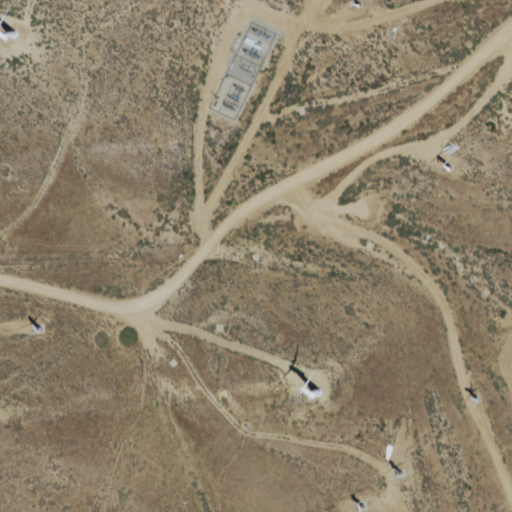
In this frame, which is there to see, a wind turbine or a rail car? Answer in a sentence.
It is a wind turbine that can be seen here.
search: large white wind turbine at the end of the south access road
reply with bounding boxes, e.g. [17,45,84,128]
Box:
[289,374,323,410]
